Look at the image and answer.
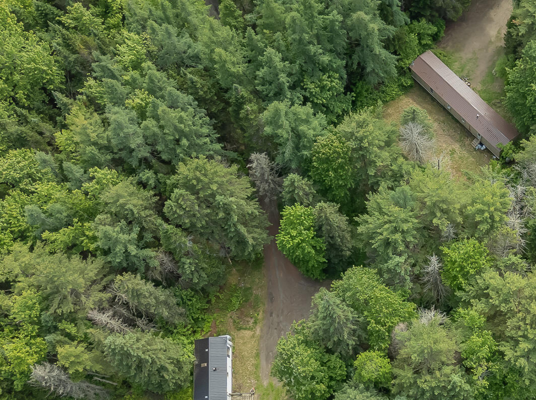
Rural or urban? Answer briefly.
rural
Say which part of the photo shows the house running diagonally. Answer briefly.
top right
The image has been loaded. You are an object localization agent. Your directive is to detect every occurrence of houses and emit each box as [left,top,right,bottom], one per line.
[409,50,521,158]
[193,337,233,400]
